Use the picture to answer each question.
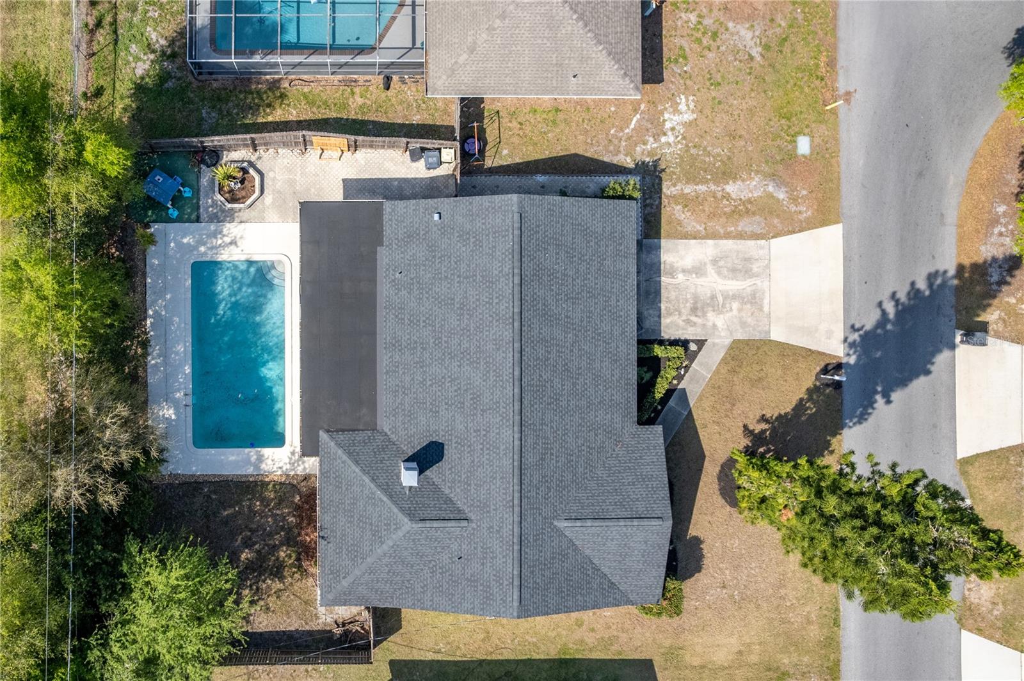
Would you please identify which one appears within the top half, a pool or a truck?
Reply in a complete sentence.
There is a pool within the top half.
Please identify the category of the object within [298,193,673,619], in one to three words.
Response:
house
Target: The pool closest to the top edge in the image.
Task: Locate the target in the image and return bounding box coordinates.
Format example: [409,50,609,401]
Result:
[210,0,410,56]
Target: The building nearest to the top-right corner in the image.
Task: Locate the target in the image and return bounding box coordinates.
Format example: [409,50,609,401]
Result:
[423,0,643,99]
